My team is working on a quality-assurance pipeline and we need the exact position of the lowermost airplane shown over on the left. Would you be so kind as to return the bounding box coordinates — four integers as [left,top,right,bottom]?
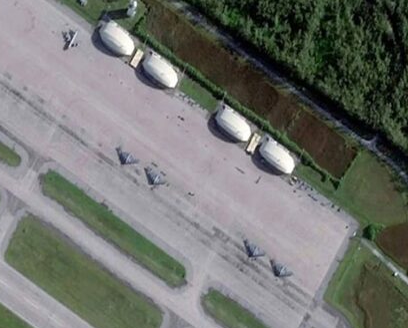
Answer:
[145,167,168,182]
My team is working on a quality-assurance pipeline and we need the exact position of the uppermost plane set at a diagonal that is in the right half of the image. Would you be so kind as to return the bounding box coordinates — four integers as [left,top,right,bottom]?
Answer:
[244,240,266,255]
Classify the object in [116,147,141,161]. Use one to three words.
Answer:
airplane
